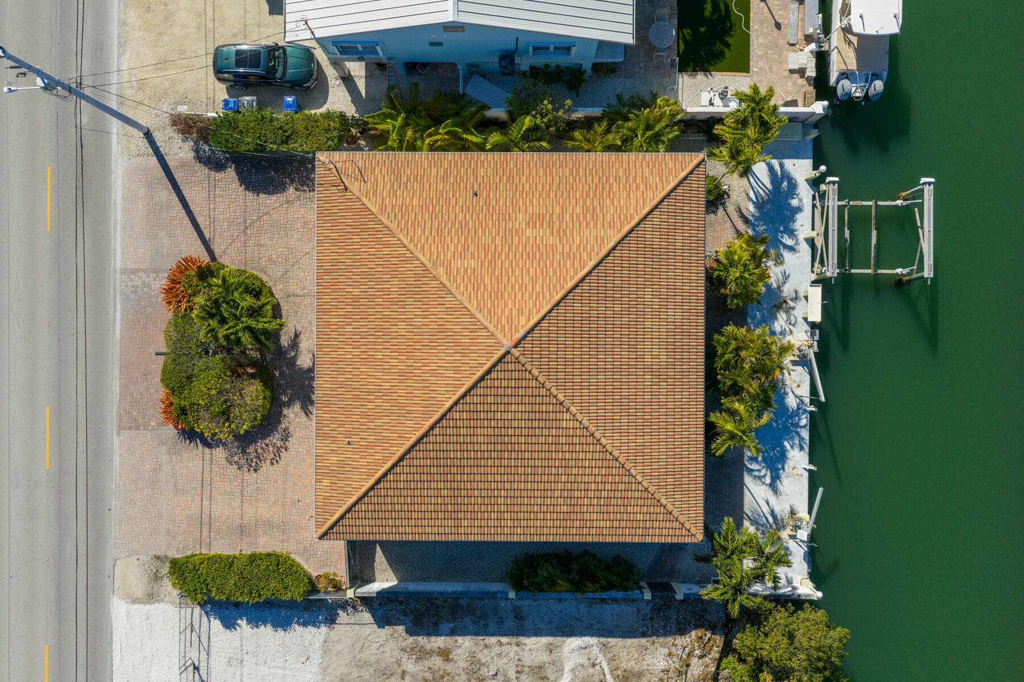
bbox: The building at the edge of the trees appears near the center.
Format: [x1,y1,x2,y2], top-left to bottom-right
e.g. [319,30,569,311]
[314,150,707,543]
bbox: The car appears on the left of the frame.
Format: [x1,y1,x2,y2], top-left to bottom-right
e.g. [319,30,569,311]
[215,39,318,90]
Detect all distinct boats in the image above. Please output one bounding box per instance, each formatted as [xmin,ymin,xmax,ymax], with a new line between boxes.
[825,0,903,104]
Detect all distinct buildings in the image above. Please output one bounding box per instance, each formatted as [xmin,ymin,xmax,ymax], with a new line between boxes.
[283,0,637,97]
[314,150,707,543]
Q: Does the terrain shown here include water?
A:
Yes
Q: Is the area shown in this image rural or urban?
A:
urban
